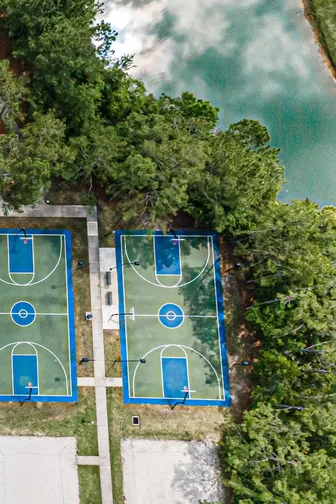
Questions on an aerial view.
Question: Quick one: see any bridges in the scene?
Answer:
No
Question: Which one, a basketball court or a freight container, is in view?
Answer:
basketball court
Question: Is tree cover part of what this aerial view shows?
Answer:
Yes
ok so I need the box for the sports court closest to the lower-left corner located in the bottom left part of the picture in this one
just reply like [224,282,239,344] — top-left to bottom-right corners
[0,435,79,504]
